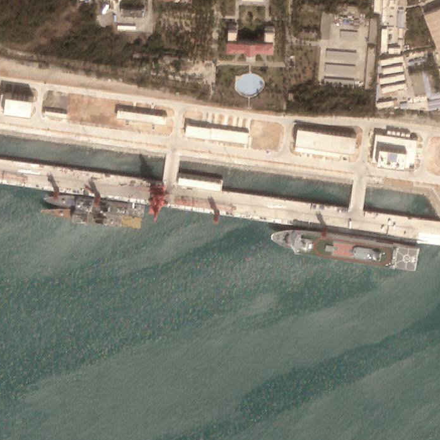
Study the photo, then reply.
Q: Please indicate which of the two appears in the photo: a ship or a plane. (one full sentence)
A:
This aerial view contains a ship.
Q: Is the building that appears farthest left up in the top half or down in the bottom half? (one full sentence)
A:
It is in the top half that the building that appears farthest left appears.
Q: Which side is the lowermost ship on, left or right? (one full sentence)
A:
It is on the right.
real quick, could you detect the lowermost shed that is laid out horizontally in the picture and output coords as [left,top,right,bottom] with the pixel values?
[179,174,223,191]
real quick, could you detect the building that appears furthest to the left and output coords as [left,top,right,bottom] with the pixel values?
[3,93,34,118]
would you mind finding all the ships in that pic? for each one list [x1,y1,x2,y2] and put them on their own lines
[271,221,420,270]
[44,193,144,217]
[42,207,143,228]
